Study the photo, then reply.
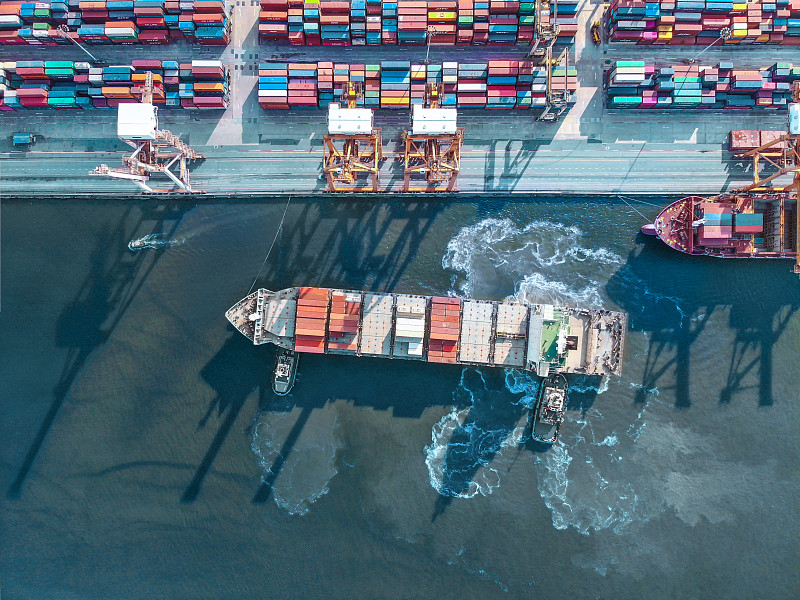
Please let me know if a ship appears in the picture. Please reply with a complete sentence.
Yes, there is a ship in the image.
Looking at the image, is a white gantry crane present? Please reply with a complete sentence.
Yes, I can see a white gantry crane in this picture.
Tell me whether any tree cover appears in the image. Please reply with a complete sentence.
No, there is no tree cover in the image.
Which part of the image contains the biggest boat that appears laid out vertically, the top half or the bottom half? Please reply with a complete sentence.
You can find the biggest boat that appears laid out vertically in the bottom half.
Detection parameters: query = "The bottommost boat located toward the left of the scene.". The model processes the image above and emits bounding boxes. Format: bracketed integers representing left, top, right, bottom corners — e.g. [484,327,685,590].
[273,349,301,398]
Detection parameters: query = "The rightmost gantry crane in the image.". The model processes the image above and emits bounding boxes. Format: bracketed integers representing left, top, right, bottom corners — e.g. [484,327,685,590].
[729,80,800,277]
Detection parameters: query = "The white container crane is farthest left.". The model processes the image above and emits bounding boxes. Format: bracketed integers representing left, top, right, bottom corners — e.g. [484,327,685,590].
[82,79,207,191]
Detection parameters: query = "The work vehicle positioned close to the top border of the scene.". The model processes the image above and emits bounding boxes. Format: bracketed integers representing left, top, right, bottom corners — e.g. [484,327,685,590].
[591,17,606,44]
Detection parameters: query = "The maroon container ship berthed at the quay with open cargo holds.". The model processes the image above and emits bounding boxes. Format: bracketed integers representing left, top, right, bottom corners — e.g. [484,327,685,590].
[641,194,794,259]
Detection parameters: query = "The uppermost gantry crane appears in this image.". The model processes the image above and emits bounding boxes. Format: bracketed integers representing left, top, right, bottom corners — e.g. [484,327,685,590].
[524,0,559,55]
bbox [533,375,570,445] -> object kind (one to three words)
boat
